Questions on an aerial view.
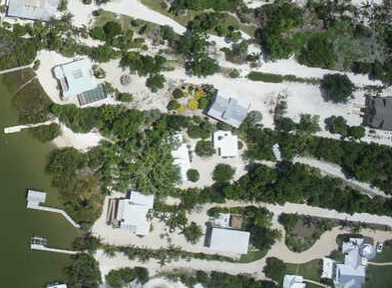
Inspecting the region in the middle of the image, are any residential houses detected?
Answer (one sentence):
Yes, there is a residential house in the middle of the image.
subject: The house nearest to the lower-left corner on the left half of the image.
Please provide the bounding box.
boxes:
[104,191,155,235]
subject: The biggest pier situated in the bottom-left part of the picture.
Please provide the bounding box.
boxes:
[26,190,80,229]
